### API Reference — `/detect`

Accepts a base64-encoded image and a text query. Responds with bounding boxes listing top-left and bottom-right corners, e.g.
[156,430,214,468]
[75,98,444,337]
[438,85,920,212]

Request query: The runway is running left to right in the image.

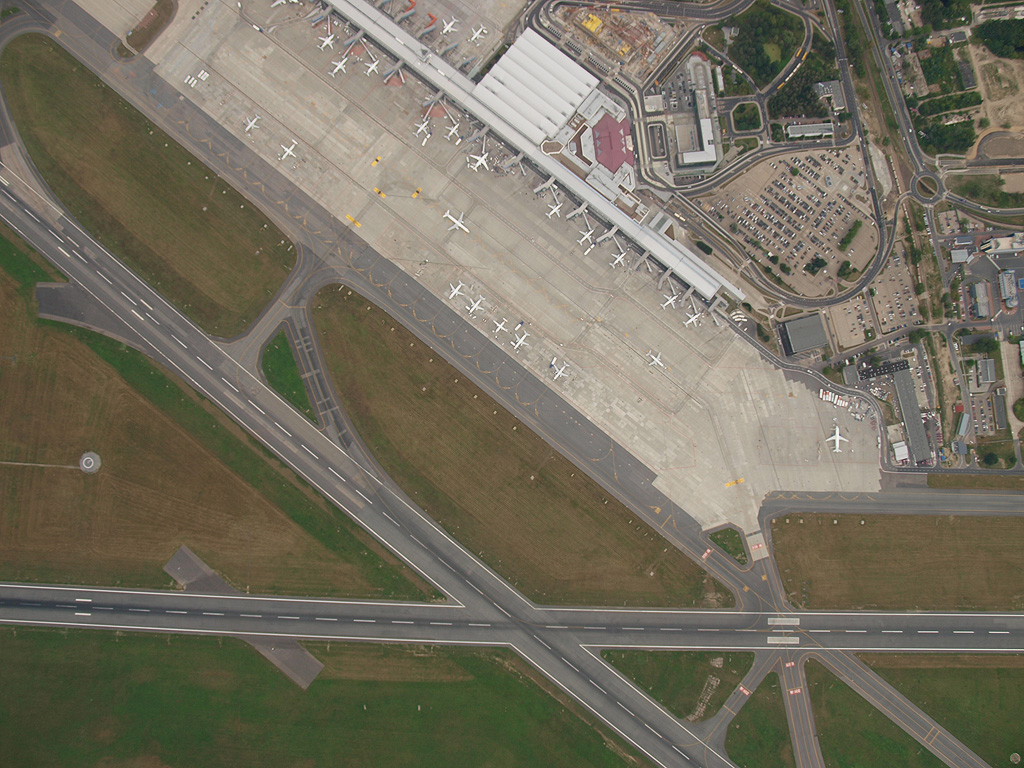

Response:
[0,584,1024,653]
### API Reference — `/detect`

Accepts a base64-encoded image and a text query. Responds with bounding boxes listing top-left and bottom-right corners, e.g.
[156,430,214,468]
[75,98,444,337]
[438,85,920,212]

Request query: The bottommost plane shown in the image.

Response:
[827,426,848,453]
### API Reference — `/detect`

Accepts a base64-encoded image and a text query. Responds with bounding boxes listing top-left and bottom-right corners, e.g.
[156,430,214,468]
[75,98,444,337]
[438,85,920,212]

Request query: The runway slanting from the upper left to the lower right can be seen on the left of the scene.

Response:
[0,160,738,768]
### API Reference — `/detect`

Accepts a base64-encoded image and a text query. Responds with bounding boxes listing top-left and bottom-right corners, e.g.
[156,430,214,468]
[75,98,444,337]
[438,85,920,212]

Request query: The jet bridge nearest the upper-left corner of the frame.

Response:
[311,5,333,35]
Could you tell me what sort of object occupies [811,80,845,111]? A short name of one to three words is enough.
building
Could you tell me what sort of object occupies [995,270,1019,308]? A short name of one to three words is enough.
building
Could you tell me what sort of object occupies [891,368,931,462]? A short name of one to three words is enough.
hangar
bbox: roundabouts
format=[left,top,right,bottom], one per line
[910,171,943,205]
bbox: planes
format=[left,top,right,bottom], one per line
[554,361,570,380]
[442,15,460,34]
[514,330,531,349]
[449,280,464,299]
[412,121,428,137]
[493,317,508,332]
[470,294,486,314]
[827,426,848,453]
[363,61,379,76]
[245,113,262,132]
[576,229,594,245]
[545,203,562,219]
[318,35,334,51]
[645,349,666,369]
[327,58,347,78]
[443,209,470,233]
[469,153,488,174]
[660,293,681,311]
[682,313,701,328]
[609,253,626,269]
[471,24,486,41]
[278,138,297,160]
[444,124,459,140]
